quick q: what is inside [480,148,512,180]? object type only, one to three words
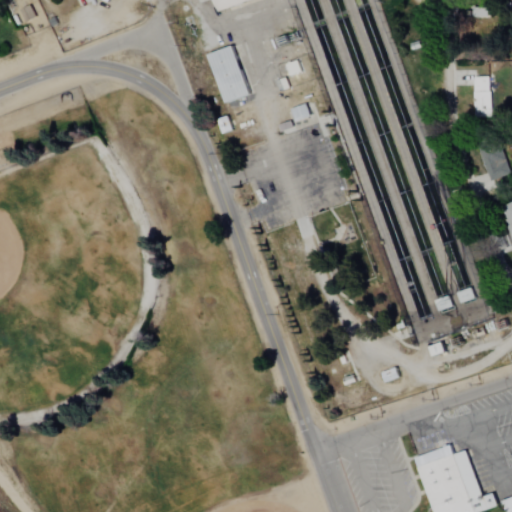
house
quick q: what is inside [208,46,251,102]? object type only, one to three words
building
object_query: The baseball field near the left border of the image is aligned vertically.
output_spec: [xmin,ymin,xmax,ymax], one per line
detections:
[0,209,24,299]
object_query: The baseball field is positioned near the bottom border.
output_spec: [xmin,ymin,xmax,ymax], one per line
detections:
[210,473,330,512]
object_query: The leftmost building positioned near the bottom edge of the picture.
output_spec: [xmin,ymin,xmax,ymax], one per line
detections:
[415,444,502,512]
